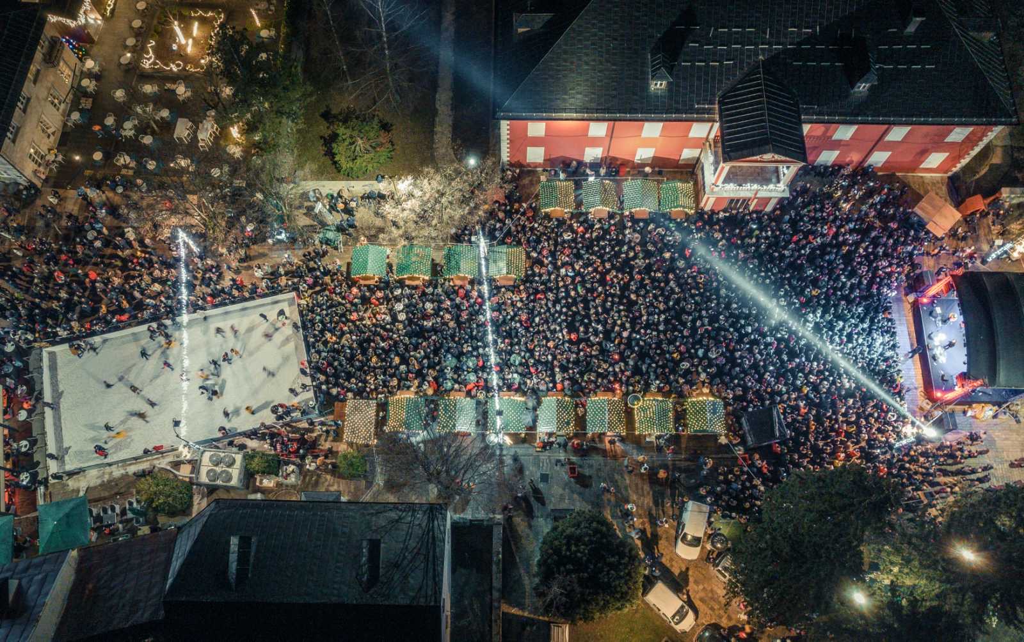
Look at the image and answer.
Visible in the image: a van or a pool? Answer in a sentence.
The image shows a van.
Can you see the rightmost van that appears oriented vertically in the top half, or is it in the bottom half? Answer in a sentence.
The rightmost van that appears oriented vertically is in the bottom half of the image.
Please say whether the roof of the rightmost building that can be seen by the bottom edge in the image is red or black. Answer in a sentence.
The roof of the rightmost building that can be seen by the bottom edge is black.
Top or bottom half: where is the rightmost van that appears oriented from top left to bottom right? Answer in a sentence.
The rightmost van that appears oriented from top left to bottom right is in the bottom half of the image.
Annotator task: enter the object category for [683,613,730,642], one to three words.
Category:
car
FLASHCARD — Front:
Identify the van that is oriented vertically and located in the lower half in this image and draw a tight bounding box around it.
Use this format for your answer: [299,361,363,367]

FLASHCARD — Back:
[673,500,709,562]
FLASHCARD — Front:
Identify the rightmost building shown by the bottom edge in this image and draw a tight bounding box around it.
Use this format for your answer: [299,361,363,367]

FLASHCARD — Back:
[162,499,454,642]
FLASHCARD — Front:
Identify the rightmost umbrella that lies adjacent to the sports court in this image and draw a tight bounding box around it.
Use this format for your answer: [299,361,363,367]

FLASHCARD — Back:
[38,496,89,555]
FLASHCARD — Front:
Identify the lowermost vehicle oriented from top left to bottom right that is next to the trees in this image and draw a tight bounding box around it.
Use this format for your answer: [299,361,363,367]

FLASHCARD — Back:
[639,577,696,637]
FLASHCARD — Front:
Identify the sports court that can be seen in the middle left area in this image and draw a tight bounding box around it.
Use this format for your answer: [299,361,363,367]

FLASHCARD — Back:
[40,291,321,478]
